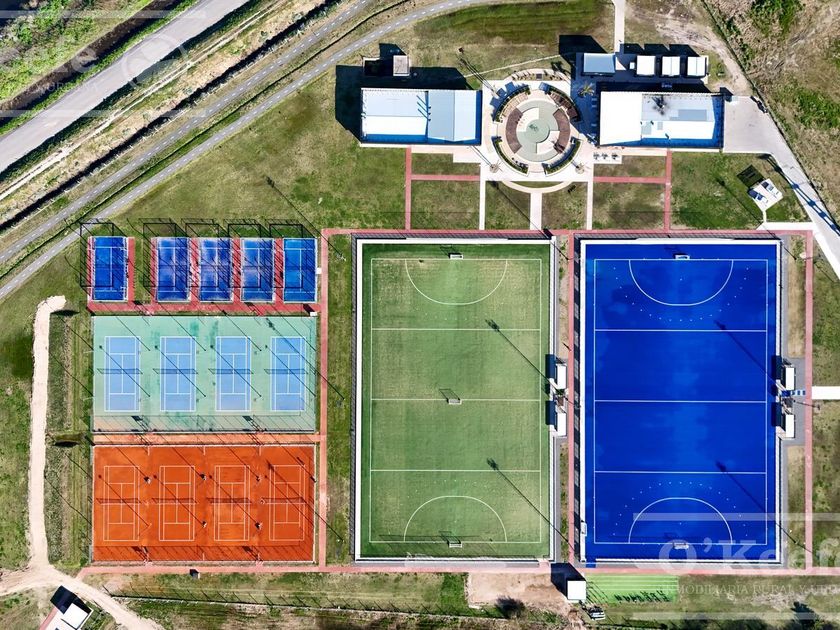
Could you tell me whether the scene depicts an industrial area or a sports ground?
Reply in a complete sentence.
What you see here is a sports ground.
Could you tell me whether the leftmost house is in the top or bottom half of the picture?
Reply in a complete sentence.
It is in the bottom half that the leftmost house appears.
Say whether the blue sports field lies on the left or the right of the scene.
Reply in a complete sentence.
You can find the blue sports field on the right side of the picture.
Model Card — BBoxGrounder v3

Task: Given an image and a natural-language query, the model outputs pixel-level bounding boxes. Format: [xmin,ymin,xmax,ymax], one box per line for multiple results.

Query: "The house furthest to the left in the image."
[62,600,90,630]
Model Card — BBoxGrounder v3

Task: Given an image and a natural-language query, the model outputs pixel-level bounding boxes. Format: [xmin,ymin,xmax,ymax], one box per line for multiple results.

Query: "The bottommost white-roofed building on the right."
[564,578,587,602]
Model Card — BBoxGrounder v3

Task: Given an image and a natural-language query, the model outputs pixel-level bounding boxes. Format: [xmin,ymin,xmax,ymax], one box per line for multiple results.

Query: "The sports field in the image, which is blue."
[581,240,780,563]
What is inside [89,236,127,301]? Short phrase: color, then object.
blue sports court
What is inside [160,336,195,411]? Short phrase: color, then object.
blue tennis court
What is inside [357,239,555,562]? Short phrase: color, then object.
green sports field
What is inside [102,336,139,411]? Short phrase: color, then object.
blue tennis court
